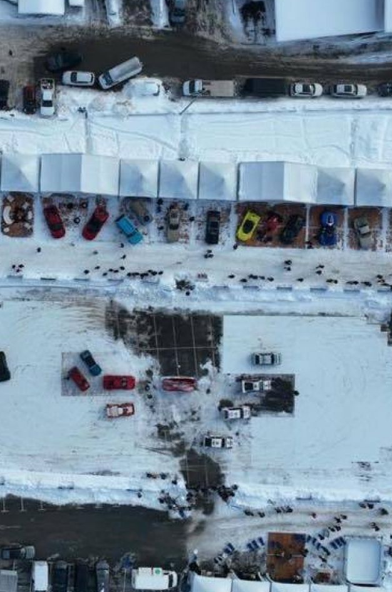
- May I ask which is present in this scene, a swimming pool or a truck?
truck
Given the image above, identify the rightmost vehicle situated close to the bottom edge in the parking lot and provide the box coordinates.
[131,564,177,592]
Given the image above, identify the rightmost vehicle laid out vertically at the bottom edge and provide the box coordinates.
[95,558,110,592]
